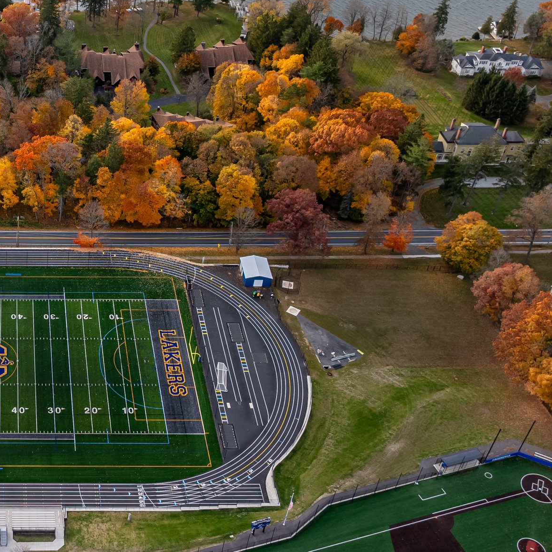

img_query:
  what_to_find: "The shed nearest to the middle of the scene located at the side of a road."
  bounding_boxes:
[239,254,274,286]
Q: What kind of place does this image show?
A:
sports ground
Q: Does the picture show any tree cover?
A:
Yes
